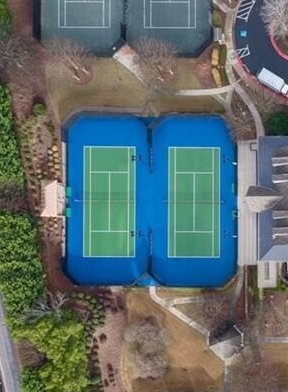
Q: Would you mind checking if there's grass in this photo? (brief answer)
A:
Yes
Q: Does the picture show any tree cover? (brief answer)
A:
Yes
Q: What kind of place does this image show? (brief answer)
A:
sports ground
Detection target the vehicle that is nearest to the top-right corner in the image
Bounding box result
[257,66,288,96]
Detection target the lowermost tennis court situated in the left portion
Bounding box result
[68,114,151,286]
